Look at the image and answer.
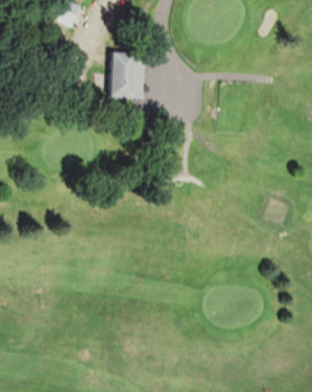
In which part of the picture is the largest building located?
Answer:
top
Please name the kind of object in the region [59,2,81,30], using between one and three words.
house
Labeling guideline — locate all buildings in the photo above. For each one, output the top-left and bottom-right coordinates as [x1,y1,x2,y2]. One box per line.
[59,2,81,30]
[111,52,144,100]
